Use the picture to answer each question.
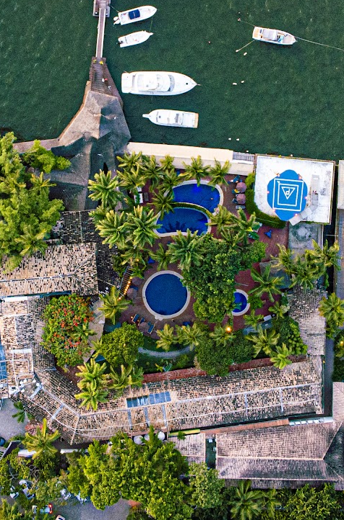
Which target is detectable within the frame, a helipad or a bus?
helipad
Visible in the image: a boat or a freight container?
boat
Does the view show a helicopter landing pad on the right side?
Yes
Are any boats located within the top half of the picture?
Yes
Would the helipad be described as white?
Yes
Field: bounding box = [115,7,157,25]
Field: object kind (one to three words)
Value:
boat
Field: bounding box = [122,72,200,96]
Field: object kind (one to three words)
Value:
boat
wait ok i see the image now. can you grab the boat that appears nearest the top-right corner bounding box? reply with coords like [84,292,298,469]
[253,27,294,45]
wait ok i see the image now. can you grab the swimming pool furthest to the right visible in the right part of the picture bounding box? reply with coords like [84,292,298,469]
[224,289,250,315]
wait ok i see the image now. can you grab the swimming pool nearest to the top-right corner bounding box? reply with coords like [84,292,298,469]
[169,180,223,213]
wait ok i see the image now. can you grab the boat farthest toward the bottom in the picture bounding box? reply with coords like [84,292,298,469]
[142,108,199,127]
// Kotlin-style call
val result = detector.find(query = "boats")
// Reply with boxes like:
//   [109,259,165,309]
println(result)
[253,27,294,45]
[142,108,199,127]
[115,32,156,47]
[122,72,200,96]
[115,7,157,25]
